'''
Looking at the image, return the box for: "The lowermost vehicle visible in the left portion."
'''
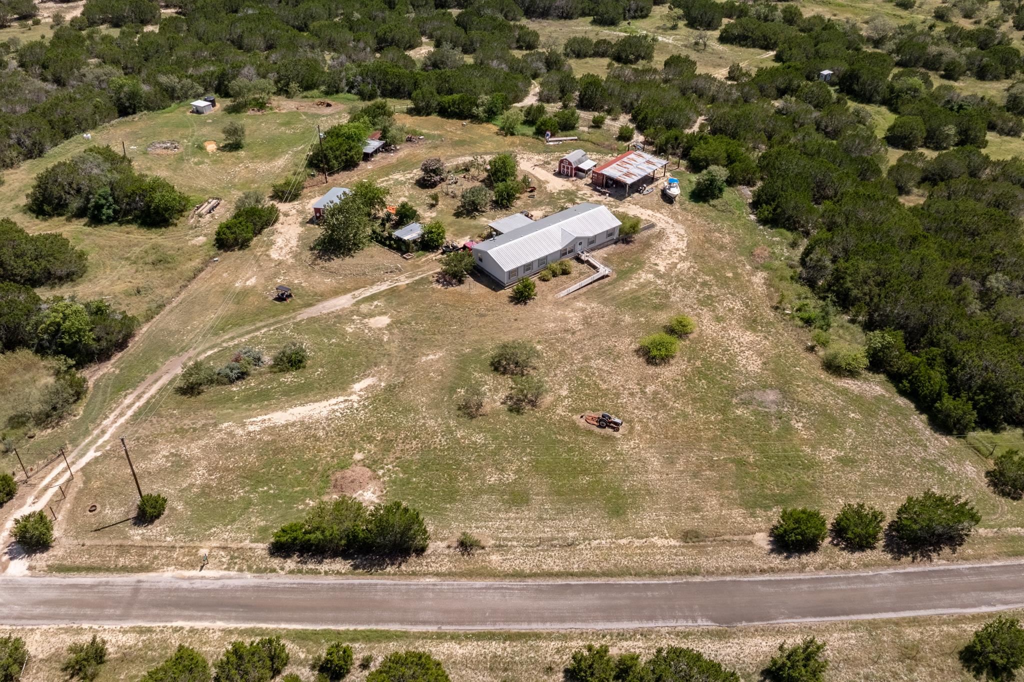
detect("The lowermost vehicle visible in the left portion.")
[275,285,294,302]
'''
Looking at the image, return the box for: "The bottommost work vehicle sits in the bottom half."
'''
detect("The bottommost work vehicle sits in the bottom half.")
[598,410,624,431]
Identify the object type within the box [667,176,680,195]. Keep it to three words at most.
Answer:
boat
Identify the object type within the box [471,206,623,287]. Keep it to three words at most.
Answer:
house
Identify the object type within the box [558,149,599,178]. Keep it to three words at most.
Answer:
barn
